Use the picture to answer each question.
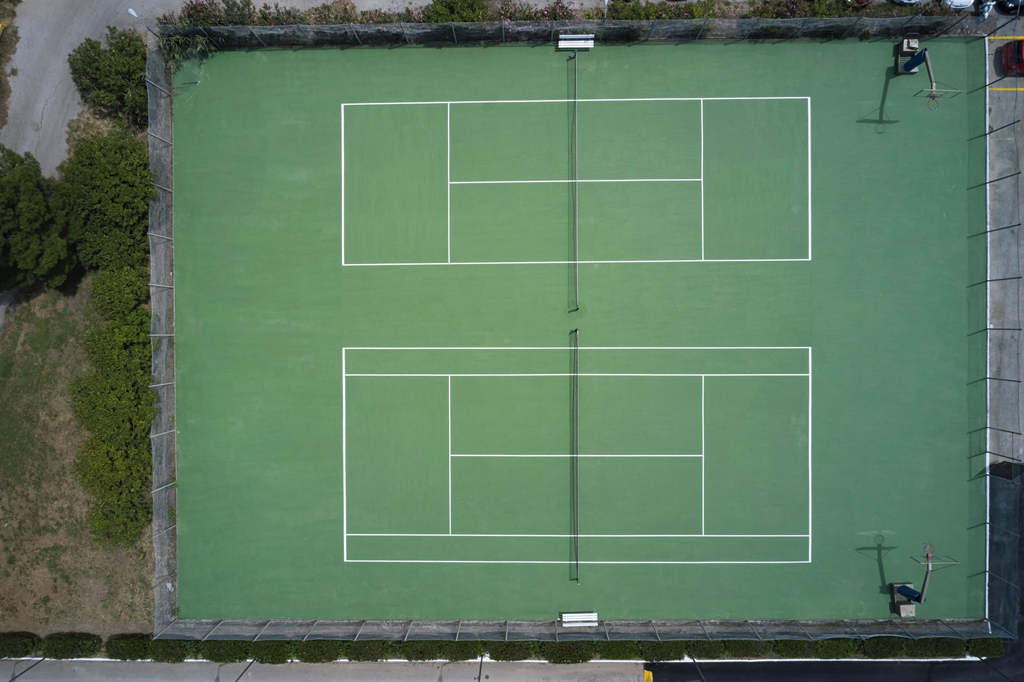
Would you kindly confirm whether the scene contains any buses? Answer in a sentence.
No, no bus can be seen from above.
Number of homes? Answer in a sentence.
I count no homes.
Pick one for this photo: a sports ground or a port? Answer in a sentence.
This image shows a sports ground.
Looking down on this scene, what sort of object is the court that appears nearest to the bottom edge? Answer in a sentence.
Specifically, the court that appears nearest to the bottom edge is a tennis court.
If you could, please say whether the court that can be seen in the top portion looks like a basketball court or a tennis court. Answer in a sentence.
The court that can be seen in the top portion appears to be a tennis court.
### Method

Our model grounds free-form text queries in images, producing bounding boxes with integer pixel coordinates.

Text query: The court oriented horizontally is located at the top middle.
[172,37,986,322]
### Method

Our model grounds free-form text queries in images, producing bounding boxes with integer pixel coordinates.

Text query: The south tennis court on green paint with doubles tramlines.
[174,321,986,620]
